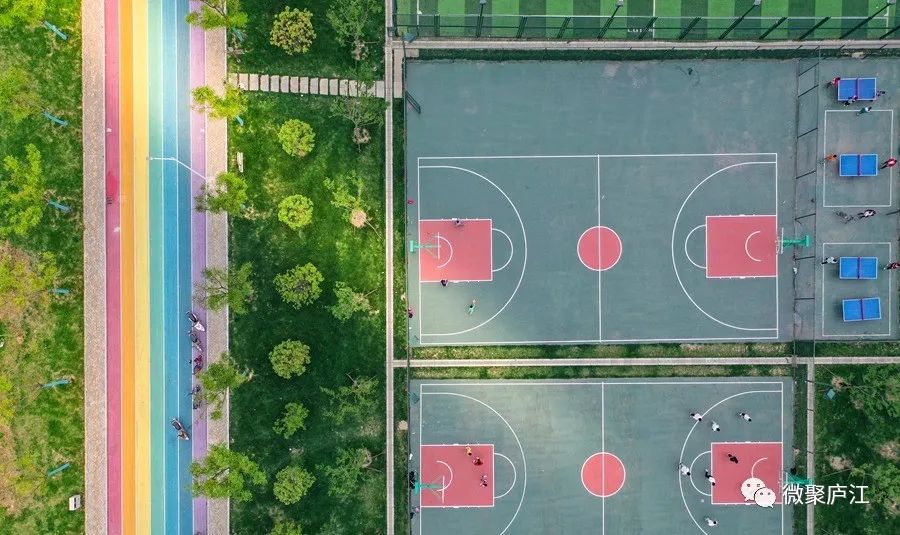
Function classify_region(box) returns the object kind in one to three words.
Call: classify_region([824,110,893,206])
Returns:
tennis court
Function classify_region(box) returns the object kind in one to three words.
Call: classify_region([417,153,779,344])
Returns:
basketball court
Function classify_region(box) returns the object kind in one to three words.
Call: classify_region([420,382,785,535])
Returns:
basketball court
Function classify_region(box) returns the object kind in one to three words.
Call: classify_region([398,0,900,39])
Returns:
soccer field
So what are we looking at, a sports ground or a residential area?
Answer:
sports ground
